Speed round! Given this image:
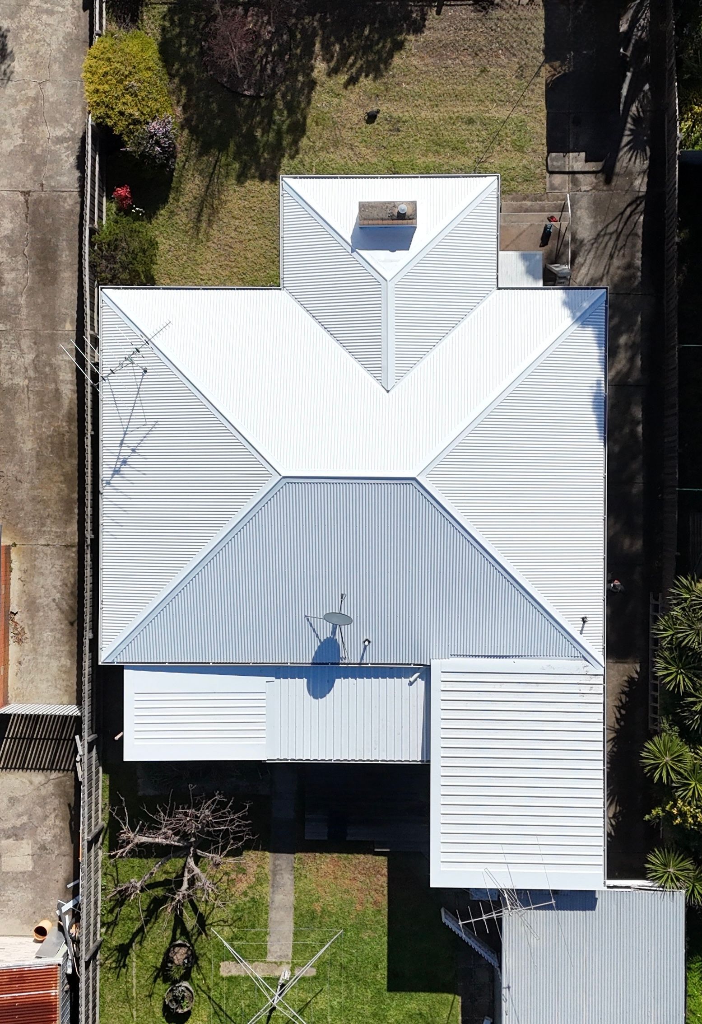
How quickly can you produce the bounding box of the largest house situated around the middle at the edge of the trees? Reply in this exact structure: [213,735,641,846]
[97,172,610,888]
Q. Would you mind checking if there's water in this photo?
No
